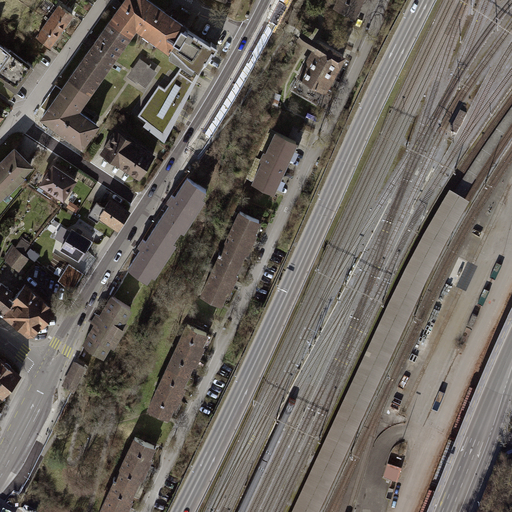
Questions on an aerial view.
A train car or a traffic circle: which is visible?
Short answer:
train car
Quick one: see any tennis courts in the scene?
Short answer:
No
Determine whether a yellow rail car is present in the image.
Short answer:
No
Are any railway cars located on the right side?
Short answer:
Yes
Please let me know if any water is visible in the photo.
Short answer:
No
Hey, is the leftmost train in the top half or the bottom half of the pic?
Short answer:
bottom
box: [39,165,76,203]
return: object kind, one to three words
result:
house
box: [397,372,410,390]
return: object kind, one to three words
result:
vehicle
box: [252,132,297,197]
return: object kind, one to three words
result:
building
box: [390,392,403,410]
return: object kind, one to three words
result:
vehicle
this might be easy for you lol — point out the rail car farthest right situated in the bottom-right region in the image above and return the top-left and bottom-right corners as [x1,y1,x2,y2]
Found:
[451,386,474,434]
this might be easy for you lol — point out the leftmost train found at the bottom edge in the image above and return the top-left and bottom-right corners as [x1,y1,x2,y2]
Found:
[238,384,298,512]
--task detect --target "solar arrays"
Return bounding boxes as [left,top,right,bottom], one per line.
[68,232,91,252]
